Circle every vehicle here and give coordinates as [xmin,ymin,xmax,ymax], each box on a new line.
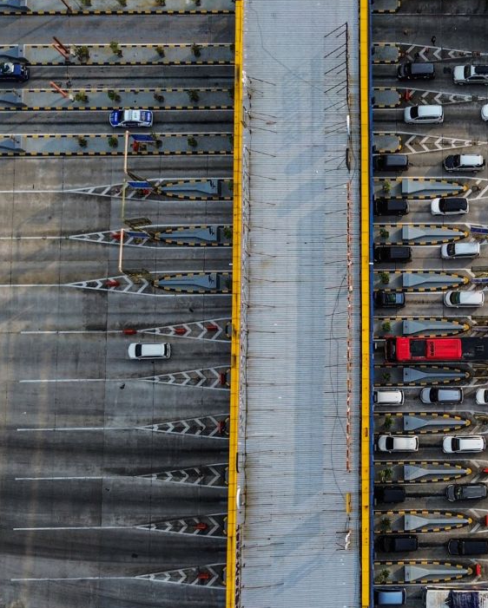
[404,104,444,125]
[110,107,155,128]
[374,151,410,172]
[375,485,408,505]
[420,385,463,406]
[442,434,485,454]
[128,341,173,361]
[440,239,480,259]
[377,433,419,453]
[452,62,488,85]
[374,196,409,217]
[445,482,488,503]
[443,289,484,308]
[0,62,33,83]
[398,60,435,82]
[375,533,418,554]
[374,289,409,309]
[443,150,487,173]
[421,582,488,608]
[384,336,488,364]
[374,244,413,263]
[447,537,488,558]
[480,103,488,122]
[375,587,409,608]
[430,195,469,217]
[375,387,406,408]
